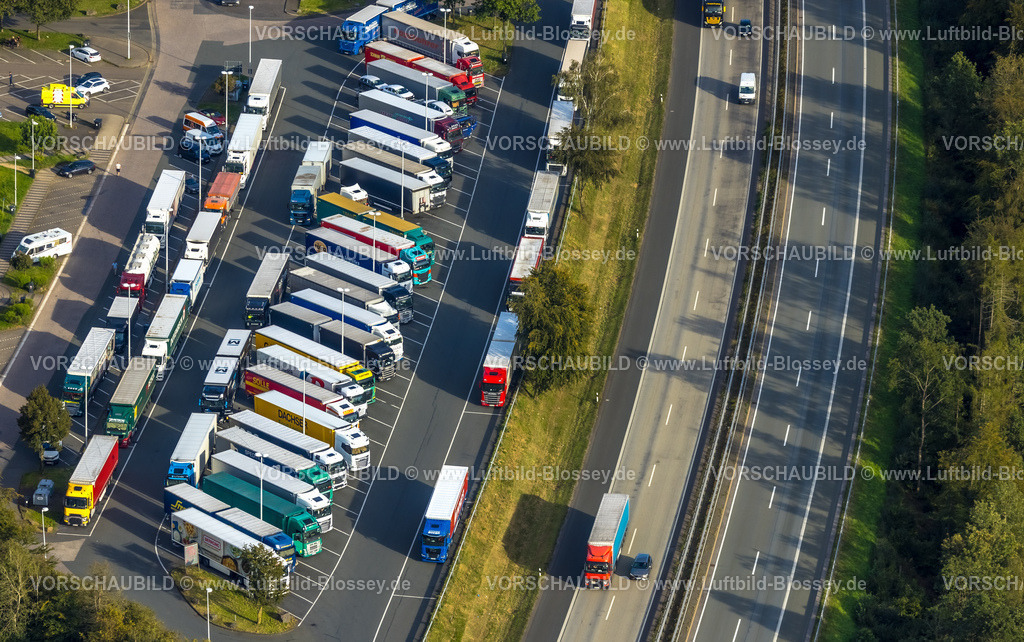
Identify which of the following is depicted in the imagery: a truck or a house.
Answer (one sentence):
Visible in the photo is a truck.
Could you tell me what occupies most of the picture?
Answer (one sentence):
The bulk of the photo consists of paved ground.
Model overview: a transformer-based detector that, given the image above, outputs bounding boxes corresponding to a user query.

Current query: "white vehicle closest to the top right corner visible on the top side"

[738,69,757,102]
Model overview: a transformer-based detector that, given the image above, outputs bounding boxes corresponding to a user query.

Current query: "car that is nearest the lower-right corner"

[629,550,653,577]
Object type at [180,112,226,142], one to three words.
vehicle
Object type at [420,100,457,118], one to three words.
car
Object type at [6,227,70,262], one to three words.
camper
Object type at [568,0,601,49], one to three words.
truck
